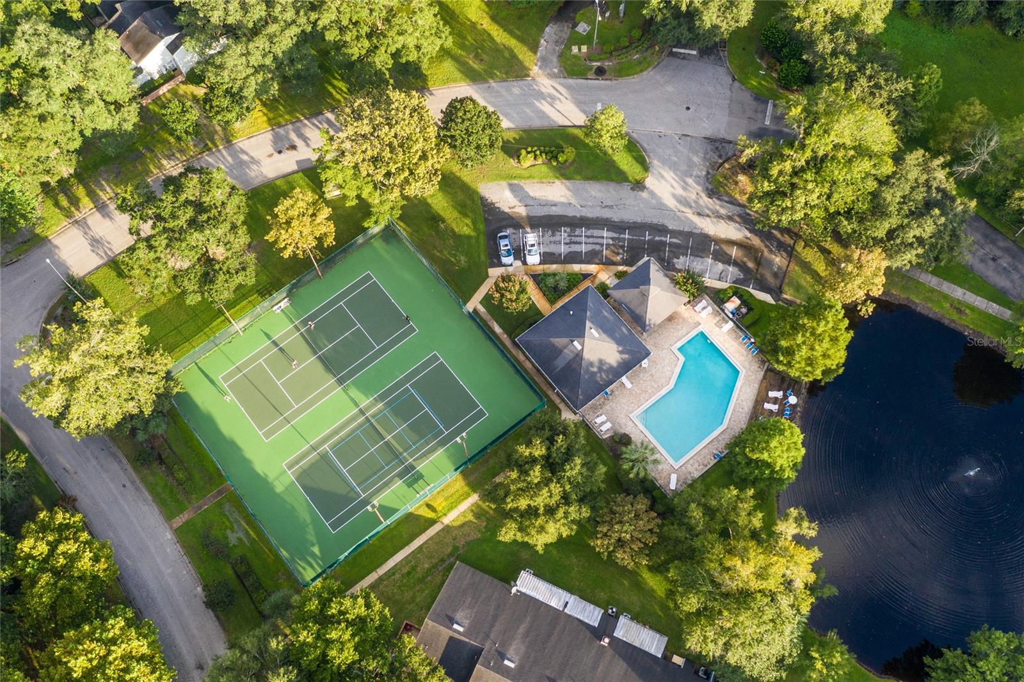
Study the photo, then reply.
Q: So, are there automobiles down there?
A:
Yes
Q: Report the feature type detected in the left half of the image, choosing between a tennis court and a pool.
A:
tennis court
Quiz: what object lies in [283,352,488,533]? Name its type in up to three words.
tennis court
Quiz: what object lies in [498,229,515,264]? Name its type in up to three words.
car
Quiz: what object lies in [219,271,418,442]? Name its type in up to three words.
tennis court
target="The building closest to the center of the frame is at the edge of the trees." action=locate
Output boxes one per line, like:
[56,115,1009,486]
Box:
[516,285,653,412]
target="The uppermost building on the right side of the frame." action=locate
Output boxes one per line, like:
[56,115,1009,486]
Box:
[606,258,690,334]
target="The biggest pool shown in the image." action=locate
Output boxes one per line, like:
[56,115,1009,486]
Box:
[629,327,745,469]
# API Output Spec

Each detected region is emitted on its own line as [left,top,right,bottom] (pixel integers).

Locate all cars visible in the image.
[524,230,541,263]
[498,229,515,264]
